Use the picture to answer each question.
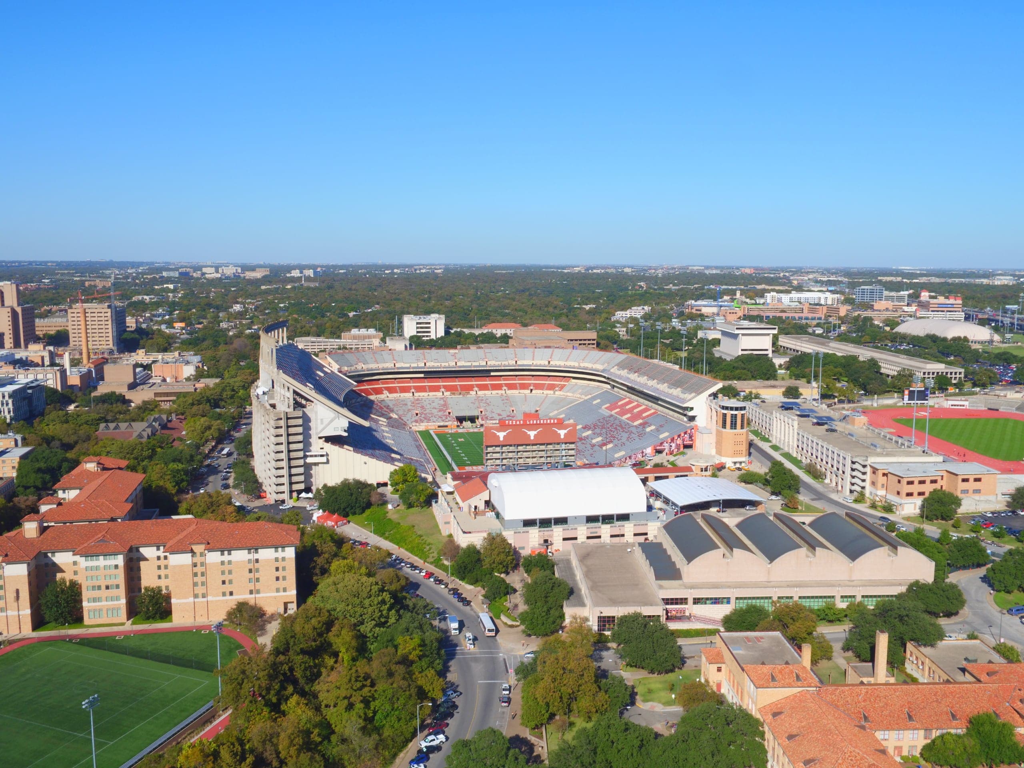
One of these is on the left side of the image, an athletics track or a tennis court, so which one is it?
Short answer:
athletics track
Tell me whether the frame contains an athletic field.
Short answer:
Yes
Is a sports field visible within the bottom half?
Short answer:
Yes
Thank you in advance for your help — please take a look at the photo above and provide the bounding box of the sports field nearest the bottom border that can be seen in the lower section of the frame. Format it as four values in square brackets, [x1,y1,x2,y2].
[0,632,248,768]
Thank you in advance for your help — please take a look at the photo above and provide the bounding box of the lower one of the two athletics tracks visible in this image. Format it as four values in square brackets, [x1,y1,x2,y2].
[0,625,261,751]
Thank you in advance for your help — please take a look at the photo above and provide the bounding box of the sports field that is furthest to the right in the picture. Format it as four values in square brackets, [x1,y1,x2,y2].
[413,426,483,476]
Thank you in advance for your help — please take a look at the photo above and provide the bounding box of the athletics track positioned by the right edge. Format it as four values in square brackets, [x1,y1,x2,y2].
[851,407,1024,468]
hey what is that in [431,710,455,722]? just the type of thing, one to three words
vehicle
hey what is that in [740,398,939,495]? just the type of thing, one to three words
building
